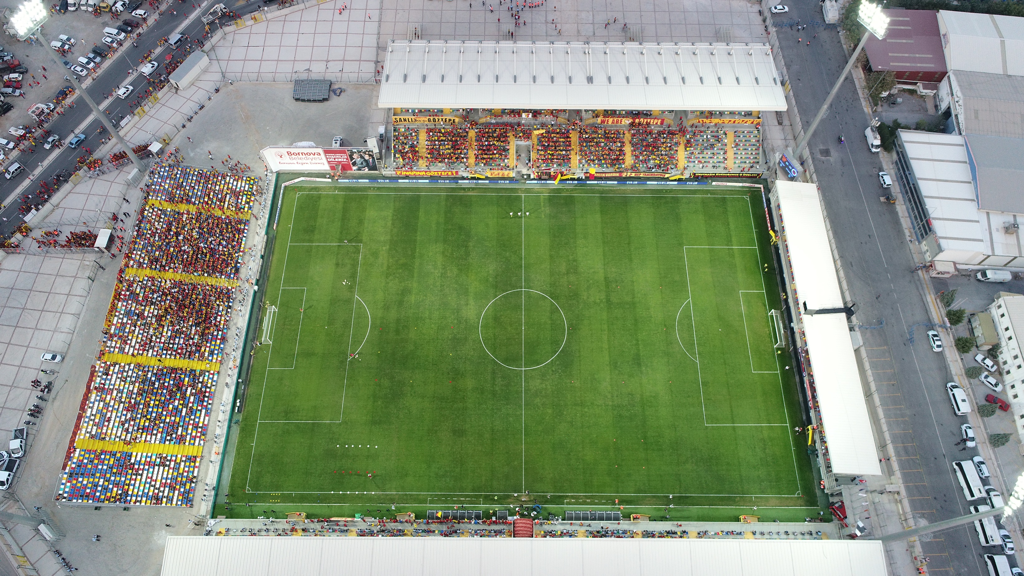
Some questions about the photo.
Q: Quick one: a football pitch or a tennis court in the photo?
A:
football pitch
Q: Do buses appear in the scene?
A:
Yes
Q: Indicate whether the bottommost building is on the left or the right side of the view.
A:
left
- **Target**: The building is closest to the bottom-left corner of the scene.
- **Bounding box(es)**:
[37,519,64,546]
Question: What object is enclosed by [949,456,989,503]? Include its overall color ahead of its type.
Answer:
white bus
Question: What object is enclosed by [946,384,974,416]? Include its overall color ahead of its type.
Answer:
white vehicle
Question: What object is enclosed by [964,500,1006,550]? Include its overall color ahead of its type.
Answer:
white bus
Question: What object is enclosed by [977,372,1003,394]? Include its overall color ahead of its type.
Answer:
white car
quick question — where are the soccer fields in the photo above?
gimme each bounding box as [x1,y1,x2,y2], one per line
[213,170,833,522]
